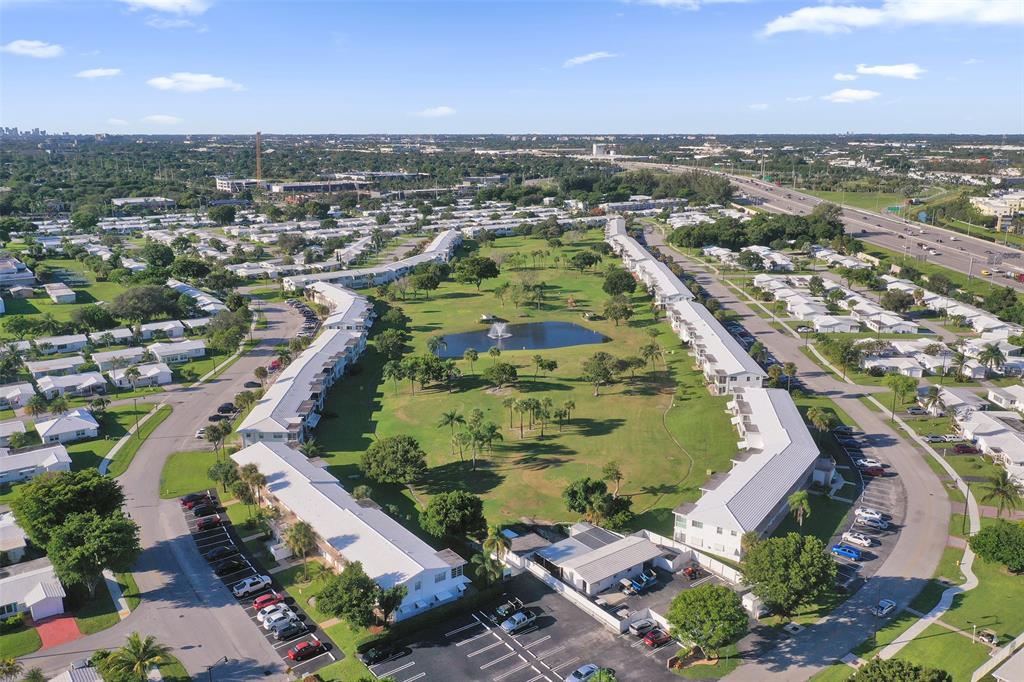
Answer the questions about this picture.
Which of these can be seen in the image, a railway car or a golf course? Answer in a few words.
golf course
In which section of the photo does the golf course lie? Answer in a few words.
center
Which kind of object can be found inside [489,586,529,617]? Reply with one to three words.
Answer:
car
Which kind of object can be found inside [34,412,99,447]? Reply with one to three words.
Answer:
house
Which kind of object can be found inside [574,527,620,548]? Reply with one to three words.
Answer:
solar panel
